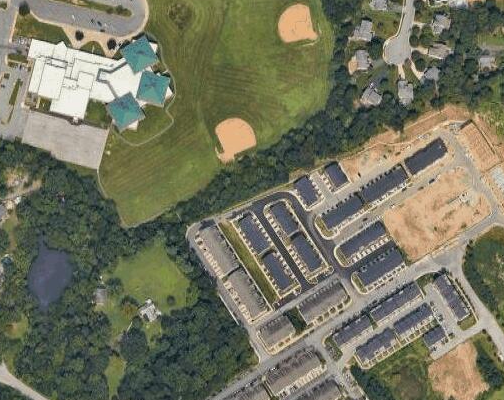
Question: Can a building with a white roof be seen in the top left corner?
Yes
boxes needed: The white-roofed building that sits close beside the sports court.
[27,36,173,130]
